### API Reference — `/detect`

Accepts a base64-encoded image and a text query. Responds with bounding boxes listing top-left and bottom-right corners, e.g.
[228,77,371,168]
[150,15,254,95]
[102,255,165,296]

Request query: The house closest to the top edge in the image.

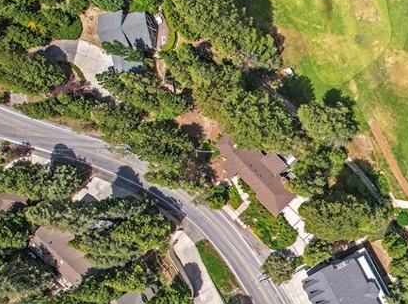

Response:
[97,9,164,52]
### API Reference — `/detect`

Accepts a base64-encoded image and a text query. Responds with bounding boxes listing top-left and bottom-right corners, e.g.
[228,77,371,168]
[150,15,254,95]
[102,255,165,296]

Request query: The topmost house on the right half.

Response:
[216,136,298,216]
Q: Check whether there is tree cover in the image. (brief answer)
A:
Yes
